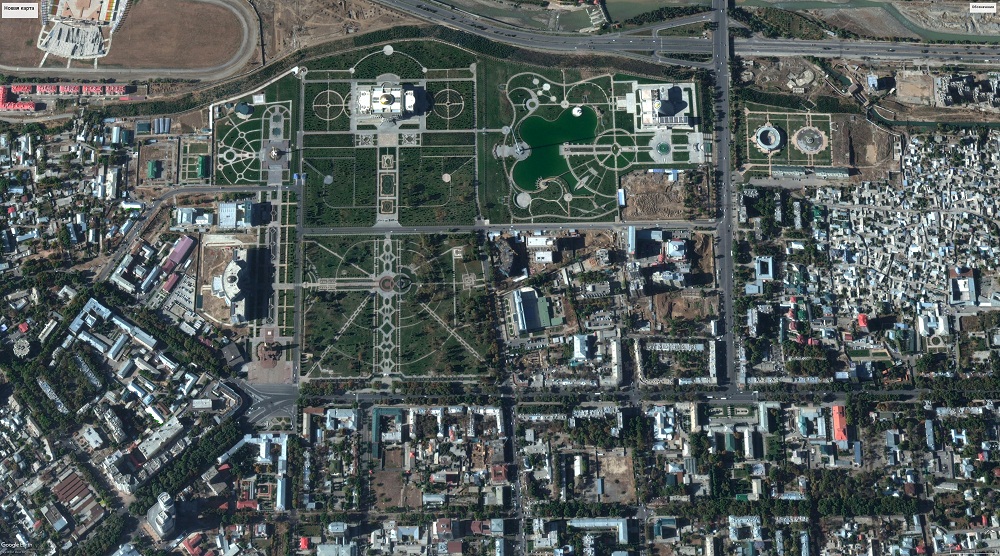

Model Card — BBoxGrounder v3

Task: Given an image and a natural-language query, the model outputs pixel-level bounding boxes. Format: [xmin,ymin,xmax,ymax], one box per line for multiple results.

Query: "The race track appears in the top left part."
[0,0,259,83]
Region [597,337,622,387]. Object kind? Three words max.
building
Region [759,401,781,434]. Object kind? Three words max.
building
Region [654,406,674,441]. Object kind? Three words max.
house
